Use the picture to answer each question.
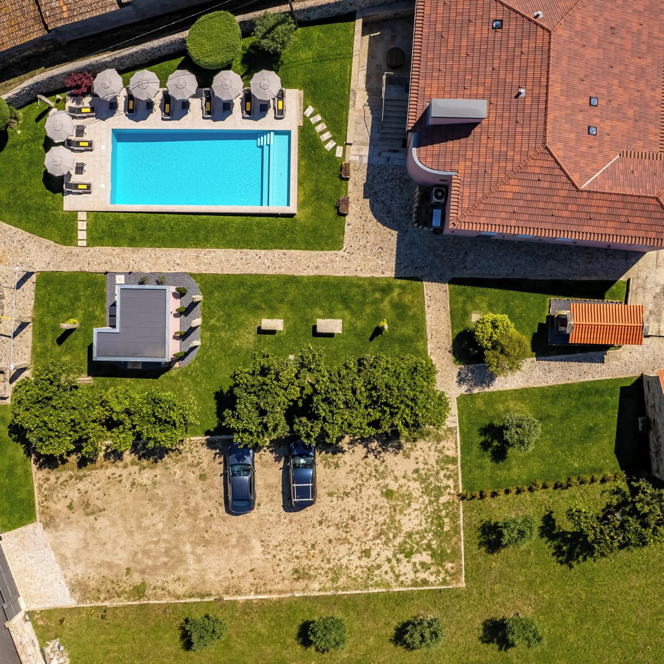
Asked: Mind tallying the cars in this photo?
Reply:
2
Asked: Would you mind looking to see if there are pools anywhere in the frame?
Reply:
Yes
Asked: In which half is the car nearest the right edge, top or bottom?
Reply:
bottom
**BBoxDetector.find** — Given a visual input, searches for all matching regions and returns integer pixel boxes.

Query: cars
[286,440,318,511]
[225,444,257,514]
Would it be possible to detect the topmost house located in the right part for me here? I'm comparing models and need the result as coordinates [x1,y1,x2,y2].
[404,0,664,250]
